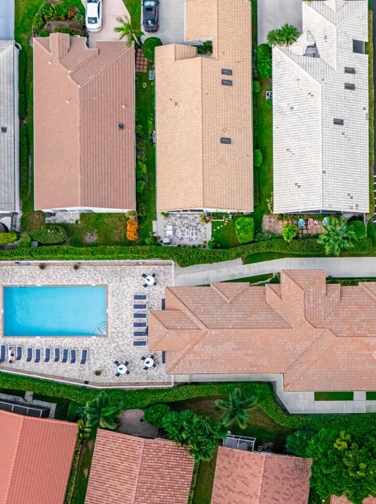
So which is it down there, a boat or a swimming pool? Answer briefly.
swimming pool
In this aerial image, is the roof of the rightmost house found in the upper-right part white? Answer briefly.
Yes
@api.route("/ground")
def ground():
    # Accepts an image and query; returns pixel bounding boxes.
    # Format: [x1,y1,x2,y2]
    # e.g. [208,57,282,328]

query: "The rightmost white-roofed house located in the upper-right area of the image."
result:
[272,0,369,215]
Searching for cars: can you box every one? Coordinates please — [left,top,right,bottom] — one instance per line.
[84,0,103,33]
[142,0,160,33]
